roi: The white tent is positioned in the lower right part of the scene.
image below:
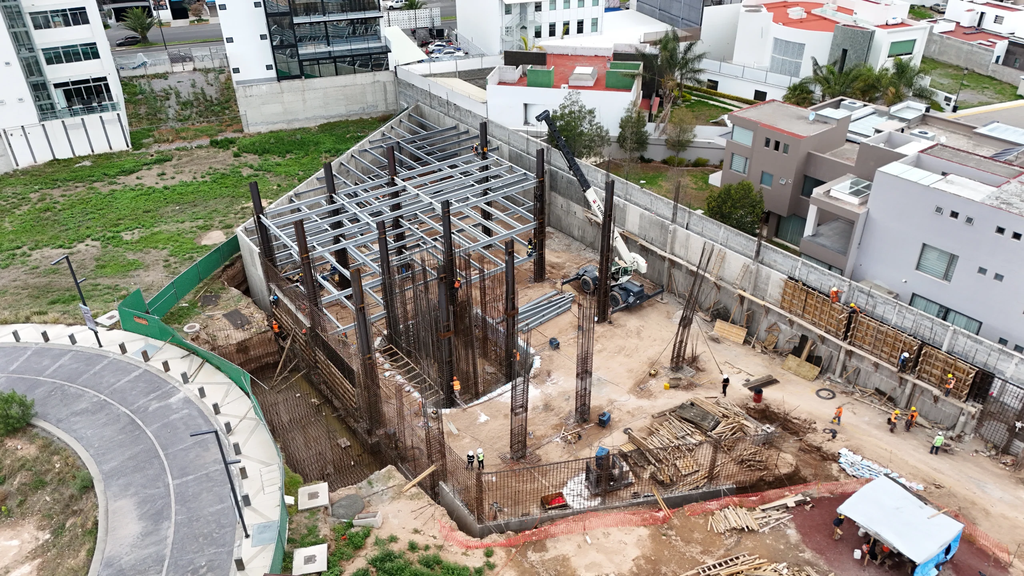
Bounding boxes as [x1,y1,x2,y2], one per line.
[824,474,966,576]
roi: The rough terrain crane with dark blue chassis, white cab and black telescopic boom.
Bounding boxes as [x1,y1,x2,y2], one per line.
[538,110,668,317]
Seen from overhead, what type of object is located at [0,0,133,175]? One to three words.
building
